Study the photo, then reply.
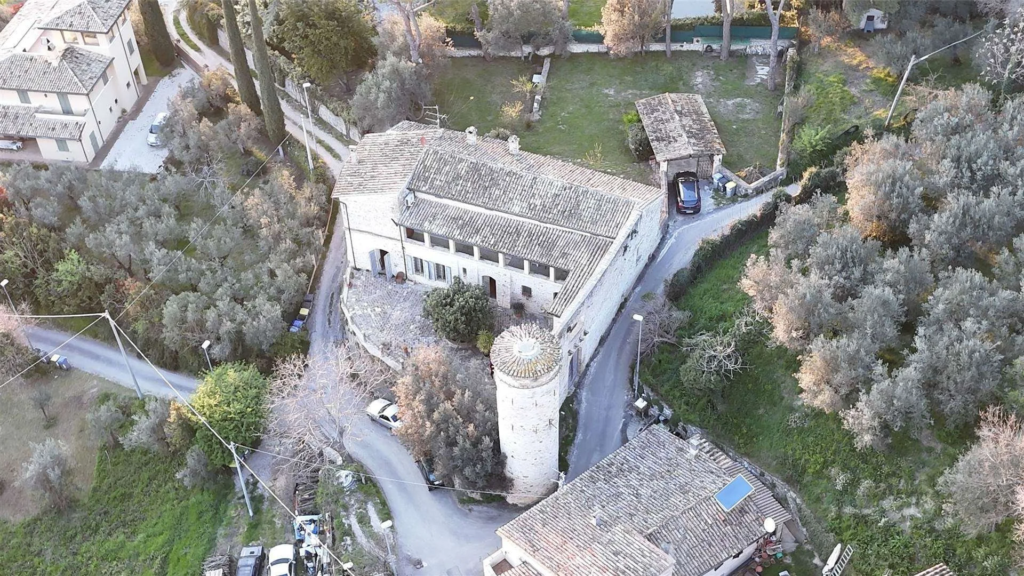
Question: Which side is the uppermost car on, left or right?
left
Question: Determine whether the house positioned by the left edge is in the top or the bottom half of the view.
top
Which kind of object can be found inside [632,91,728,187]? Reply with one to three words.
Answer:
building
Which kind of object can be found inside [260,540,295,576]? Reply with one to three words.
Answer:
car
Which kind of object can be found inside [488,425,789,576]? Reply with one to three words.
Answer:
house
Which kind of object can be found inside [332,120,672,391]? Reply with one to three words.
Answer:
house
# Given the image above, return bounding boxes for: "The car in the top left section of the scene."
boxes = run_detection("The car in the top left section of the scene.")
[142,110,171,144]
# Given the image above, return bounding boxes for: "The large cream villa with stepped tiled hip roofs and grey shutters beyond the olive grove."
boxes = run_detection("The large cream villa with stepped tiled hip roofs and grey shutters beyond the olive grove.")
[0,0,142,161]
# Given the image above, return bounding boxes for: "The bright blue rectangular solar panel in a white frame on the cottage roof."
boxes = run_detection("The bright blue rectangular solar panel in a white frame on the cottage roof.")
[714,476,754,517]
